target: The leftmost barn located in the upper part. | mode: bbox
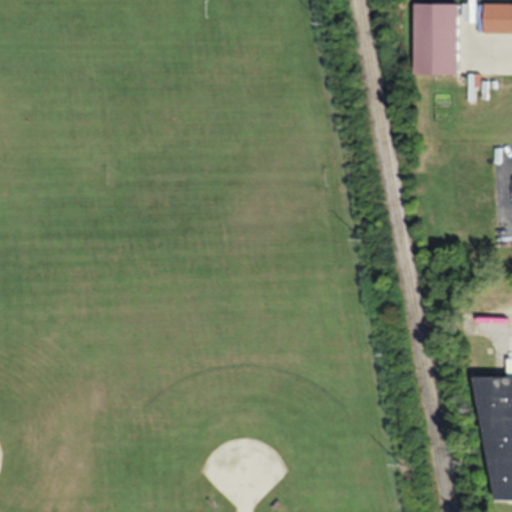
[414,2,458,76]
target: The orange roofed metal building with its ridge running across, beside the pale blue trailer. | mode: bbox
[482,4,512,34]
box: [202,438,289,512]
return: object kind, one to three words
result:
baseball field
